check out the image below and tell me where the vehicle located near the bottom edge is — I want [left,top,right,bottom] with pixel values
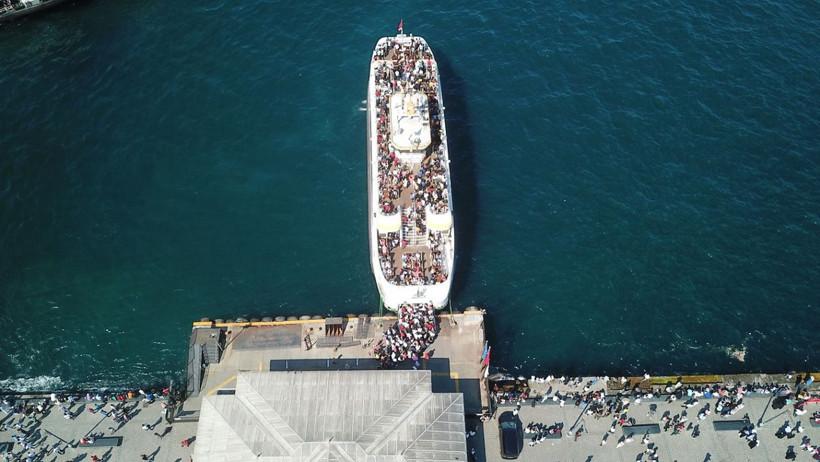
[497,412,523,462]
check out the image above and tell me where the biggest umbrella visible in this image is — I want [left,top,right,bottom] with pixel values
[770,396,786,411]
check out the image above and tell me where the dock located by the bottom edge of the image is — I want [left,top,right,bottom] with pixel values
[192,306,495,462]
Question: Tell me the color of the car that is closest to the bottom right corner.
black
